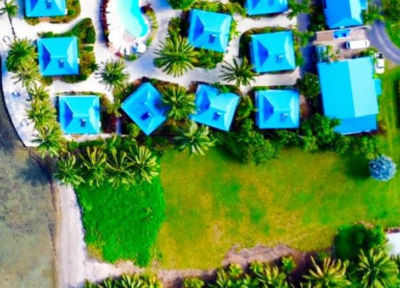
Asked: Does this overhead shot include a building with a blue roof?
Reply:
Yes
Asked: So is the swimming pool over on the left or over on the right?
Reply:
left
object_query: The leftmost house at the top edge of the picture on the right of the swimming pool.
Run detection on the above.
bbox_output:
[183,10,232,52]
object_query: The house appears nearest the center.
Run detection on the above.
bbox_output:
[186,84,239,127]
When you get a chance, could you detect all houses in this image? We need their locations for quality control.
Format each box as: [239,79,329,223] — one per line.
[186,84,239,127]
[253,90,298,128]
[117,83,167,134]
[383,229,400,260]
[320,0,366,28]
[21,0,65,17]
[183,10,232,52]
[34,37,79,75]
[246,31,294,72]
[237,0,286,15]
[56,95,100,133]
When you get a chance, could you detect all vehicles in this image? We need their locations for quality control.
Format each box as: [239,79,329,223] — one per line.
[343,39,366,49]
[371,54,384,75]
